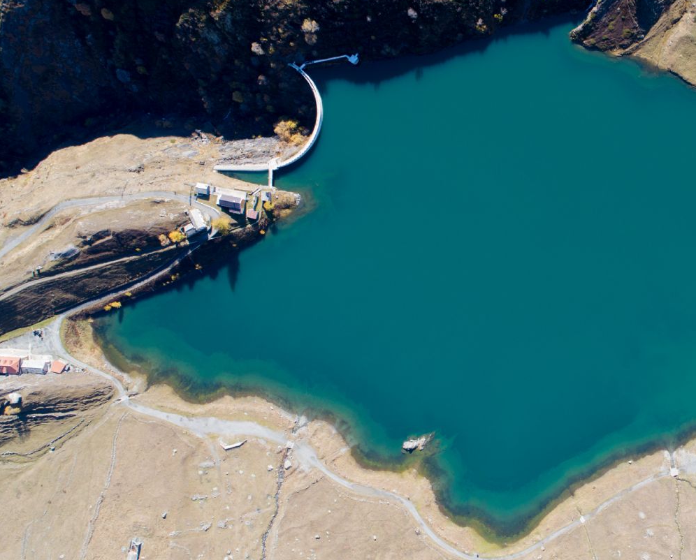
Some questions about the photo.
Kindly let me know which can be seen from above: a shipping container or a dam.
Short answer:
dam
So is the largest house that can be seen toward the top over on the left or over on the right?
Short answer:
left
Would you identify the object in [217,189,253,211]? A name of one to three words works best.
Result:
house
